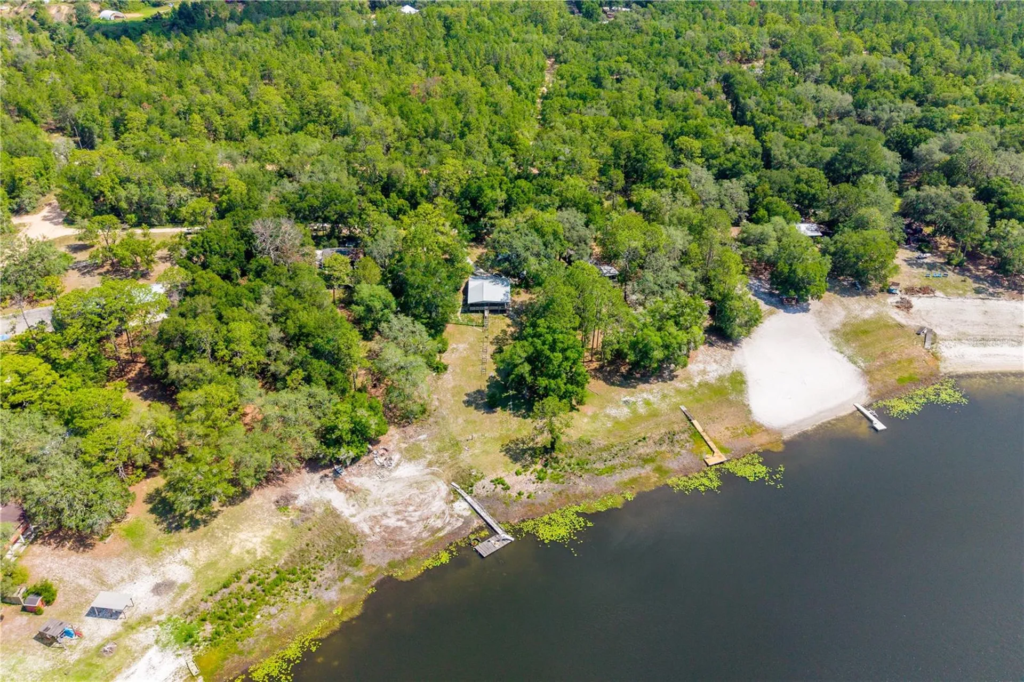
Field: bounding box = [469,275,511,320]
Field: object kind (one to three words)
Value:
house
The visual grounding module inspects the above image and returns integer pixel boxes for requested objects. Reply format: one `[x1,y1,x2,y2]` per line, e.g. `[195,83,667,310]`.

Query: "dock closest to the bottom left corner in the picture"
[450,482,514,561]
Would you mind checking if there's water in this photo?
Yes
